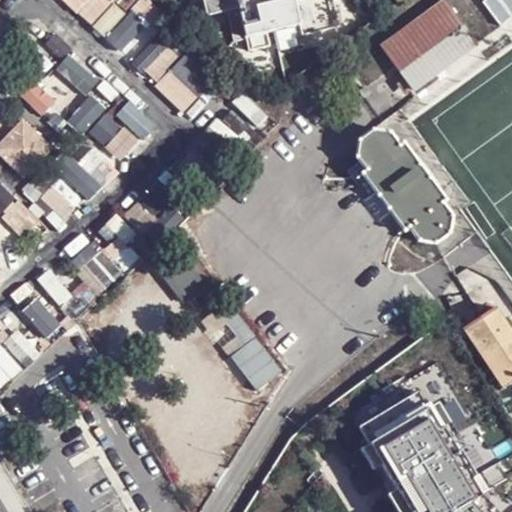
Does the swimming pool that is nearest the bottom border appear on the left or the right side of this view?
right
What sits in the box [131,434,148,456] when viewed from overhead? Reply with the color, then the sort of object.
white car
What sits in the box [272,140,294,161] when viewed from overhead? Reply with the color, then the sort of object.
white car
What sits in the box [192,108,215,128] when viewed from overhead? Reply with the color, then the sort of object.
white vehicle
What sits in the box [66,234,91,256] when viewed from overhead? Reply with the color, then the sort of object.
white camper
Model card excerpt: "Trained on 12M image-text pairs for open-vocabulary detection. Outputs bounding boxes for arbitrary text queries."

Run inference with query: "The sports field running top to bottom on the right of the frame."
[410,50,512,280]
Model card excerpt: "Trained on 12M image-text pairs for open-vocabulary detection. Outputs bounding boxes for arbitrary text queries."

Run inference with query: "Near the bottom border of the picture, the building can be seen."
[358,364,508,512]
